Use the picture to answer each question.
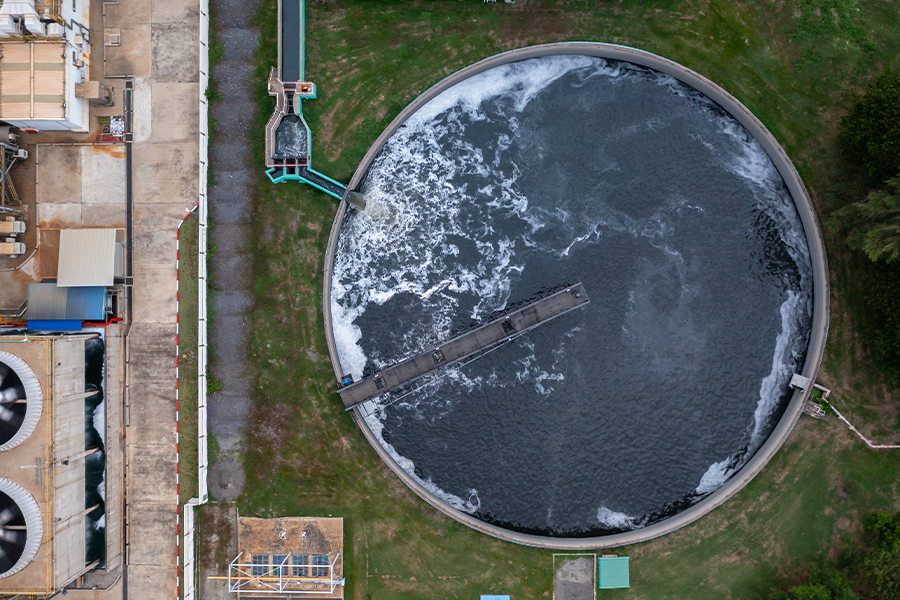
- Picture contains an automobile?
No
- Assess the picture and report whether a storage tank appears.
Yes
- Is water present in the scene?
Yes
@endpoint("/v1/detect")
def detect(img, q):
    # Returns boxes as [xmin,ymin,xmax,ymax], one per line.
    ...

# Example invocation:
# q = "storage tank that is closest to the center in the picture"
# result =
[322,40,831,551]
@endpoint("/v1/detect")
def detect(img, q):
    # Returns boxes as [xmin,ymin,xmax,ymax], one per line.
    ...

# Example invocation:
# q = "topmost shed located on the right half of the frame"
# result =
[599,553,630,589]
